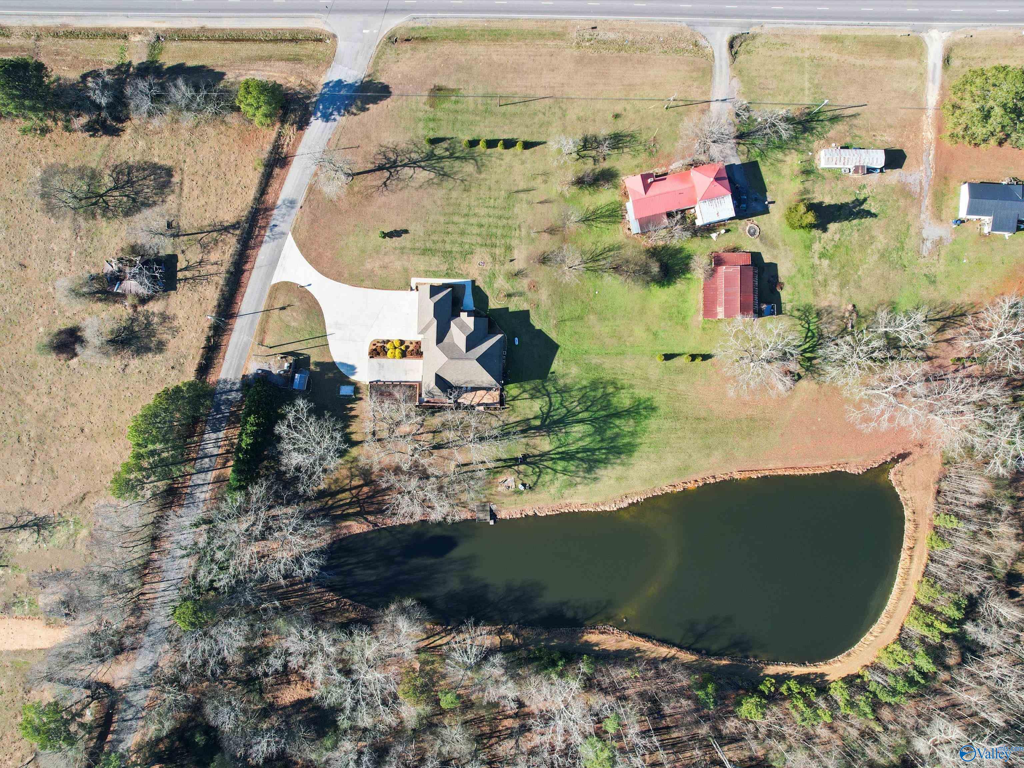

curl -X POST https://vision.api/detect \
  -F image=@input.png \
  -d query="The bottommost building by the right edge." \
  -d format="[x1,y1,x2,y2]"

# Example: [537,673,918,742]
[961,183,1024,233]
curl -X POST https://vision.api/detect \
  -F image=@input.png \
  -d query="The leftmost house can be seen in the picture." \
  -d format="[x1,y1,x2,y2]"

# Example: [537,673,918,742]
[102,254,170,294]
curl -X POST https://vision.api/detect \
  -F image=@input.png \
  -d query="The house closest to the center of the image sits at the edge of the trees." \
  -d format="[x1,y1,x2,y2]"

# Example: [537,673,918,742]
[418,283,503,397]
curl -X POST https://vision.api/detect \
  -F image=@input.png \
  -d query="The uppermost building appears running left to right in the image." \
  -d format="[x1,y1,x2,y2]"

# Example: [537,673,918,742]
[820,149,885,176]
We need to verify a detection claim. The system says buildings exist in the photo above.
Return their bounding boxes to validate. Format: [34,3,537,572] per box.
[102,254,170,294]
[293,374,309,390]
[820,149,885,176]
[961,183,1024,233]
[418,283,503,397]
[703,266,758,319]
[624,162,735,234]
